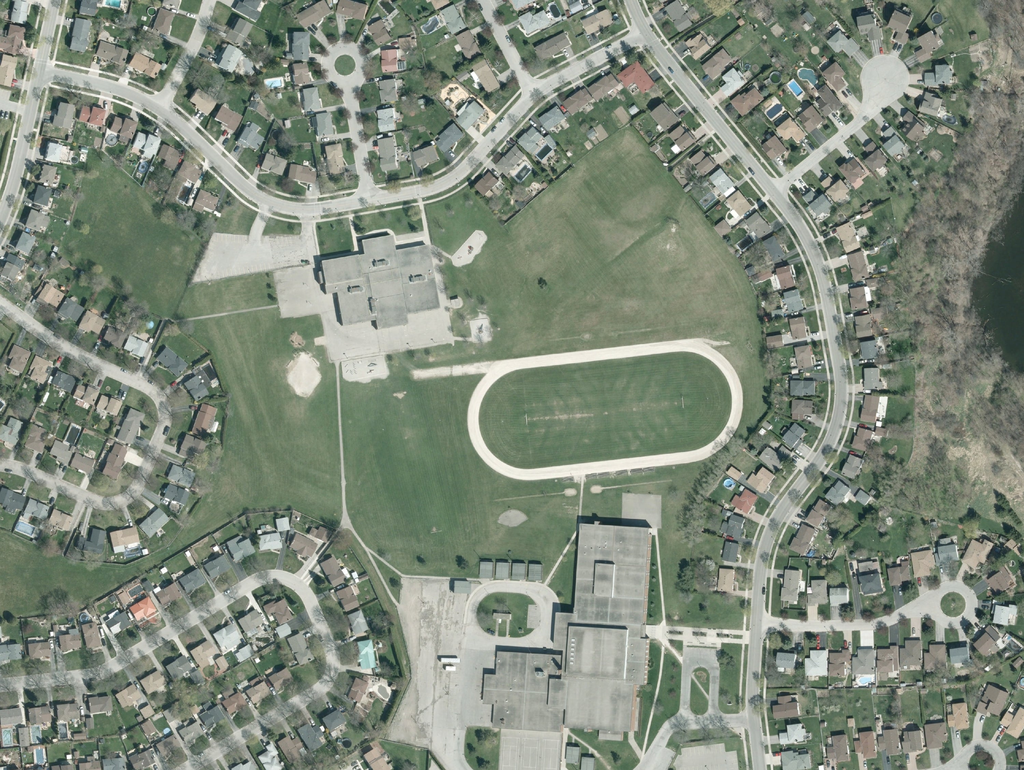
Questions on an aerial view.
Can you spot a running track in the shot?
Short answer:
Yes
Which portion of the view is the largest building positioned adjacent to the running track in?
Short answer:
bottom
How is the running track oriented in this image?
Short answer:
from left to right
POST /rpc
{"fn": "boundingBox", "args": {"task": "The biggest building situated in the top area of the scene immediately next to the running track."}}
[318,235,439,329]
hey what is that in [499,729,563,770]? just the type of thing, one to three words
tennis court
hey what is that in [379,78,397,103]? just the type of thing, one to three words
house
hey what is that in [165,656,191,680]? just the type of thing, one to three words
house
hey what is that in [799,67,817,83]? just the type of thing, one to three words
swimming pool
